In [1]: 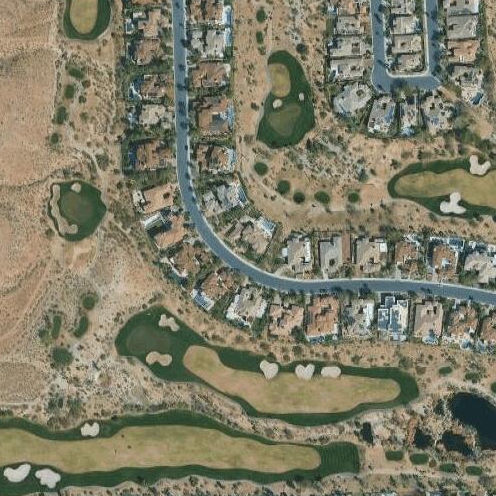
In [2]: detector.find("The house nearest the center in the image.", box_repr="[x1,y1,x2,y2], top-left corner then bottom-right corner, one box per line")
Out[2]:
[233,215,277,253]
